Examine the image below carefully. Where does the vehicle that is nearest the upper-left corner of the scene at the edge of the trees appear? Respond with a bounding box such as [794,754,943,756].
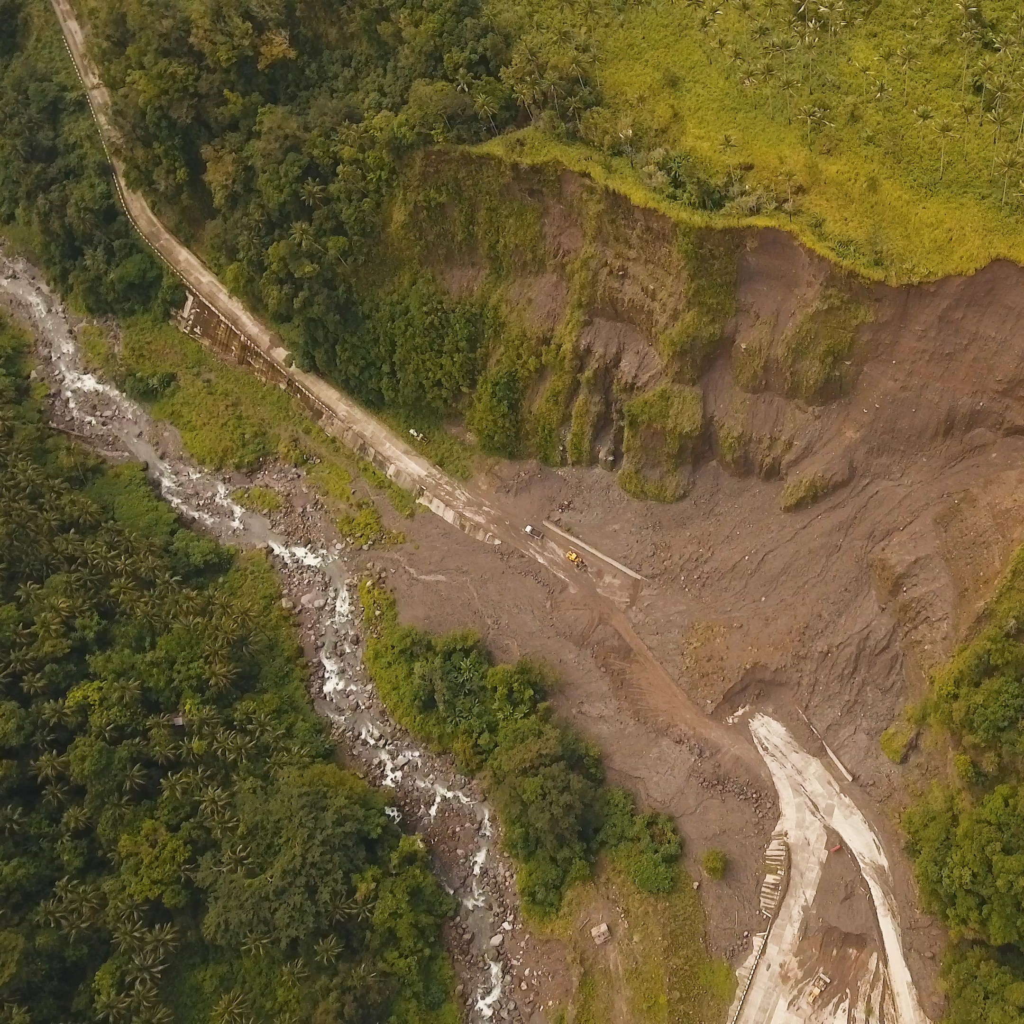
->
[408,427,429,443]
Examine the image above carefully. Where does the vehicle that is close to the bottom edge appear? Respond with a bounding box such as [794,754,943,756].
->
[807,972,832,1005]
